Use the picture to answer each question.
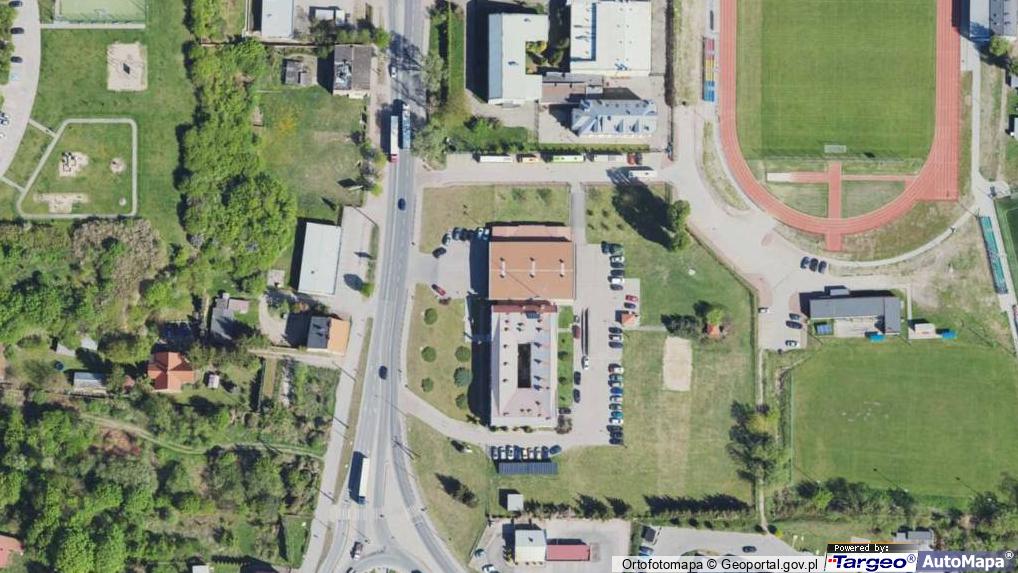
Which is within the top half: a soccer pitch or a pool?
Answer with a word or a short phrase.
soccer pitch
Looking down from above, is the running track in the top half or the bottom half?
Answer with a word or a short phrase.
top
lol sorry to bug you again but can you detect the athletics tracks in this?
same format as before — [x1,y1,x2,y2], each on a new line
[720,0,960,250]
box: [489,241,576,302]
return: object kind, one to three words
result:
building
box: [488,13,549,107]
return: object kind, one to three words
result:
building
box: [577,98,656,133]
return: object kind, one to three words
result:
house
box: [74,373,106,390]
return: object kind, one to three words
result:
barn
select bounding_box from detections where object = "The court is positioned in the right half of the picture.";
[663,336,691,390]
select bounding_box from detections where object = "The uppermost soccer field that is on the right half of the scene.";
[762,0,934,157]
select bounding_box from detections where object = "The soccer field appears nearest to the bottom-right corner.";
[794,338,1018,495]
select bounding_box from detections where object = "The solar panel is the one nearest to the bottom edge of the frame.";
[498,463,558,476]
